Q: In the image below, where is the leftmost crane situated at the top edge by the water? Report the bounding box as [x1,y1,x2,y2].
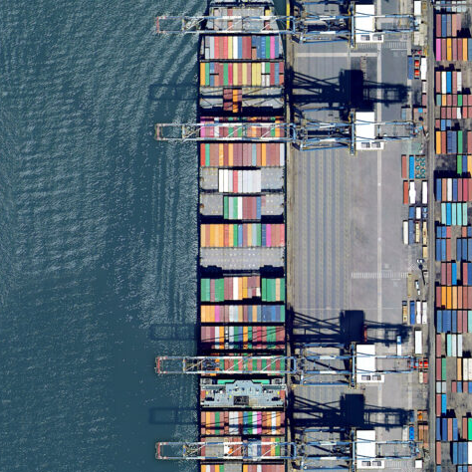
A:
[157,1,417,49]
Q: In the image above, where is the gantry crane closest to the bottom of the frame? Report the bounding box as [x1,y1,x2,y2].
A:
[157,424,418,472]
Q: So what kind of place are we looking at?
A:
port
